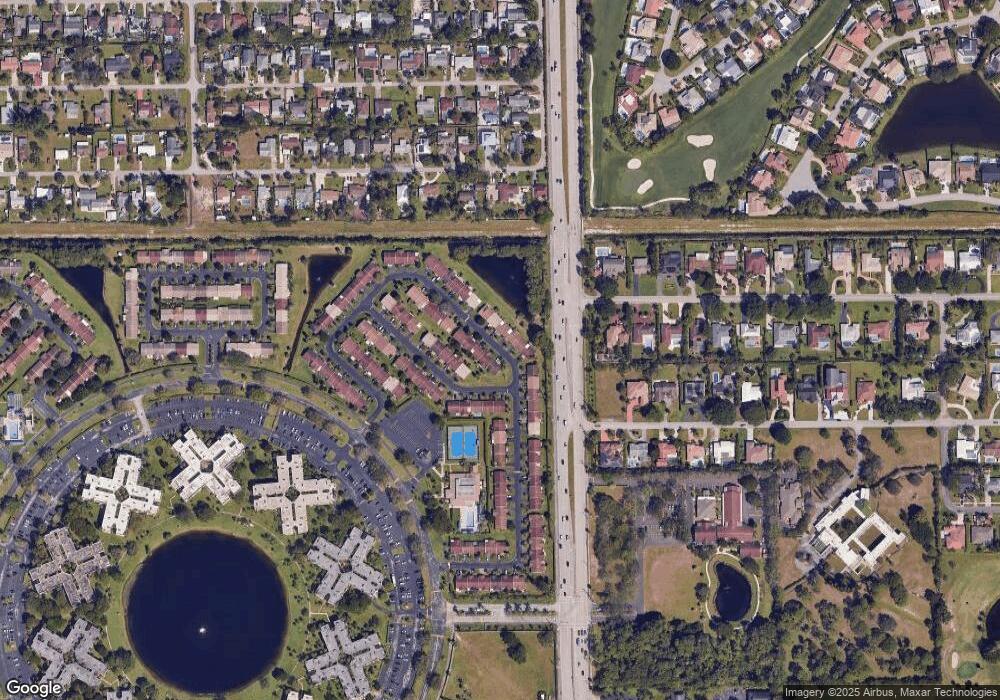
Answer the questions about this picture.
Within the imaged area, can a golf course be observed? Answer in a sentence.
Yes, the image includes a golf course.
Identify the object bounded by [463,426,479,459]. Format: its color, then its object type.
blue tennis court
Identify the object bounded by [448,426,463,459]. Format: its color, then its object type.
blue tennis court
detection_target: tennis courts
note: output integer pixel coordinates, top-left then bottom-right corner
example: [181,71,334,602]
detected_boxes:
[448,426,463,459]
[463,426,479,459]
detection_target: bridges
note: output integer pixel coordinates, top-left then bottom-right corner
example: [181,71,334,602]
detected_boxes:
[551,230,583,249]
